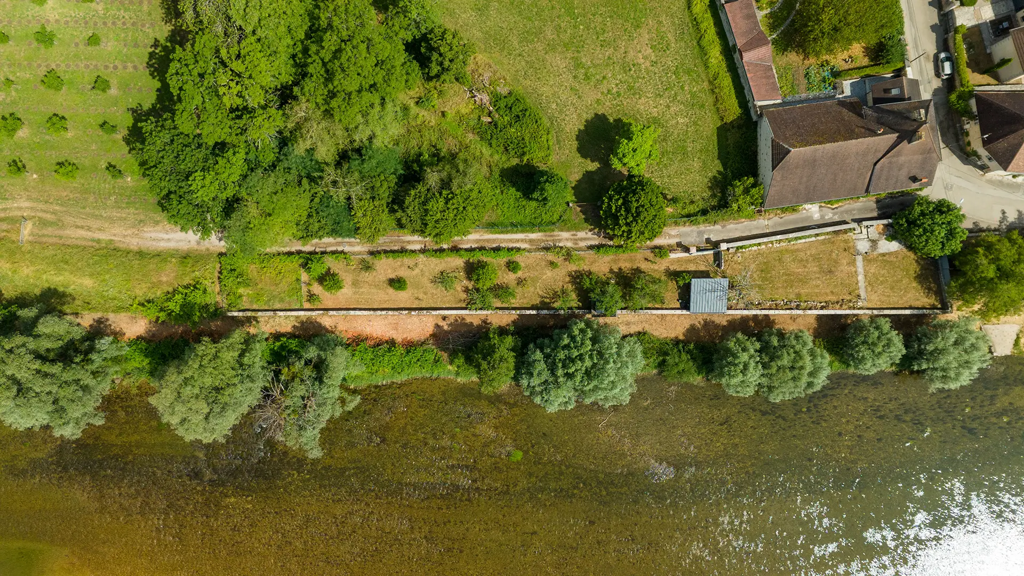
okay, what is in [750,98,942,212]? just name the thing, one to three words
house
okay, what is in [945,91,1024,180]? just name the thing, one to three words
house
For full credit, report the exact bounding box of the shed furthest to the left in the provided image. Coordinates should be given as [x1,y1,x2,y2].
[687,278,729,313]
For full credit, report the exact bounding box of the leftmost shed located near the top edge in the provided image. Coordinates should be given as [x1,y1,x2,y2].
[722,0,781,109]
